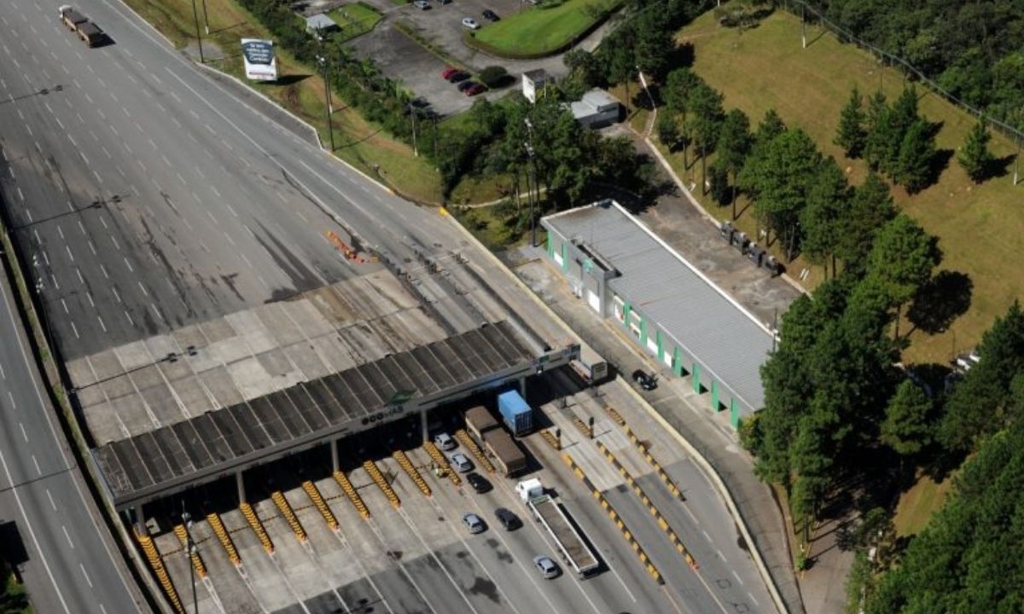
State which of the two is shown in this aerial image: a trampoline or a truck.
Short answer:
truck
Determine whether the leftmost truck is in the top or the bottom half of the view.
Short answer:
top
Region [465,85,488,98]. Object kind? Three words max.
vehicle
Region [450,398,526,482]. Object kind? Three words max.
truck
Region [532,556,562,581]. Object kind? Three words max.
car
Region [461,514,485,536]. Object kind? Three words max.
car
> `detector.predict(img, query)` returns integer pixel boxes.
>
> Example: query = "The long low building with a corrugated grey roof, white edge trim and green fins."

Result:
[541,195,784,426]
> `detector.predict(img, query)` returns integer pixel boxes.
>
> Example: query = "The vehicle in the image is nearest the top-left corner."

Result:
[61,7,104,53]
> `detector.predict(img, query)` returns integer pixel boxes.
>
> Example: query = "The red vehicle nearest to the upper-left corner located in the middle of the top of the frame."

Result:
[442,69,465,81]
